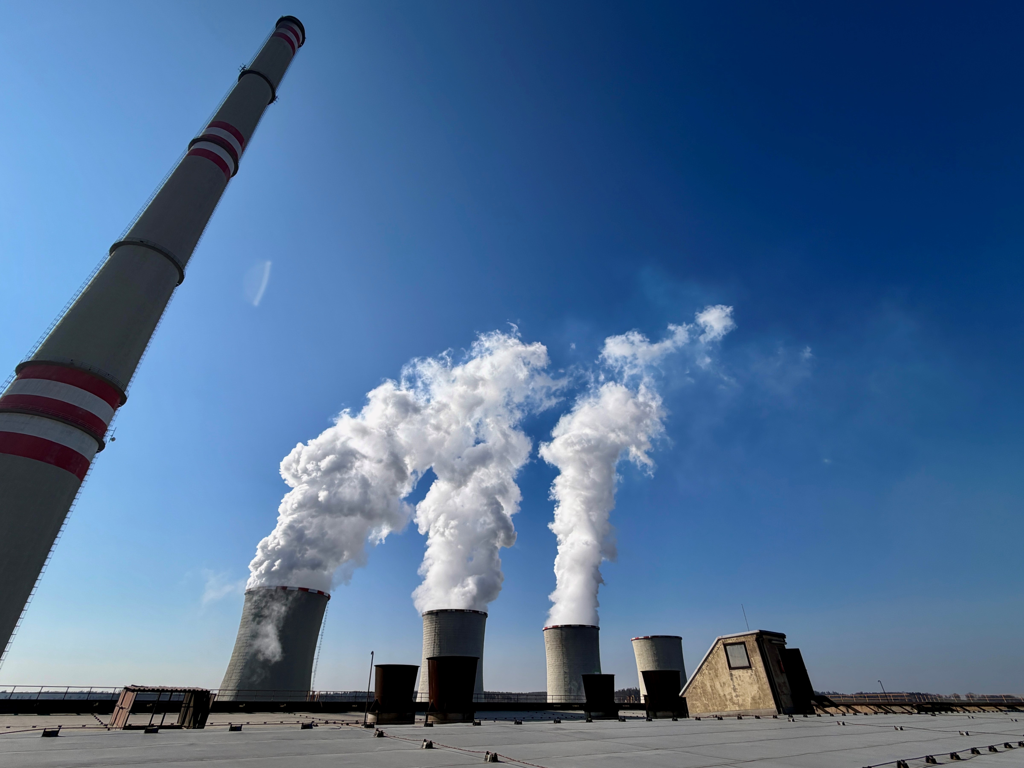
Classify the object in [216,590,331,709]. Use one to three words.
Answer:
cooling tower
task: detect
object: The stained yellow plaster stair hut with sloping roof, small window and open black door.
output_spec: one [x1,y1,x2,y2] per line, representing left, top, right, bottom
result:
[677,610,824,719]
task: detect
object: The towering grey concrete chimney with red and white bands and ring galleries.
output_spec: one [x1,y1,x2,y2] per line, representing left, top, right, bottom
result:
[0,15,305,672]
